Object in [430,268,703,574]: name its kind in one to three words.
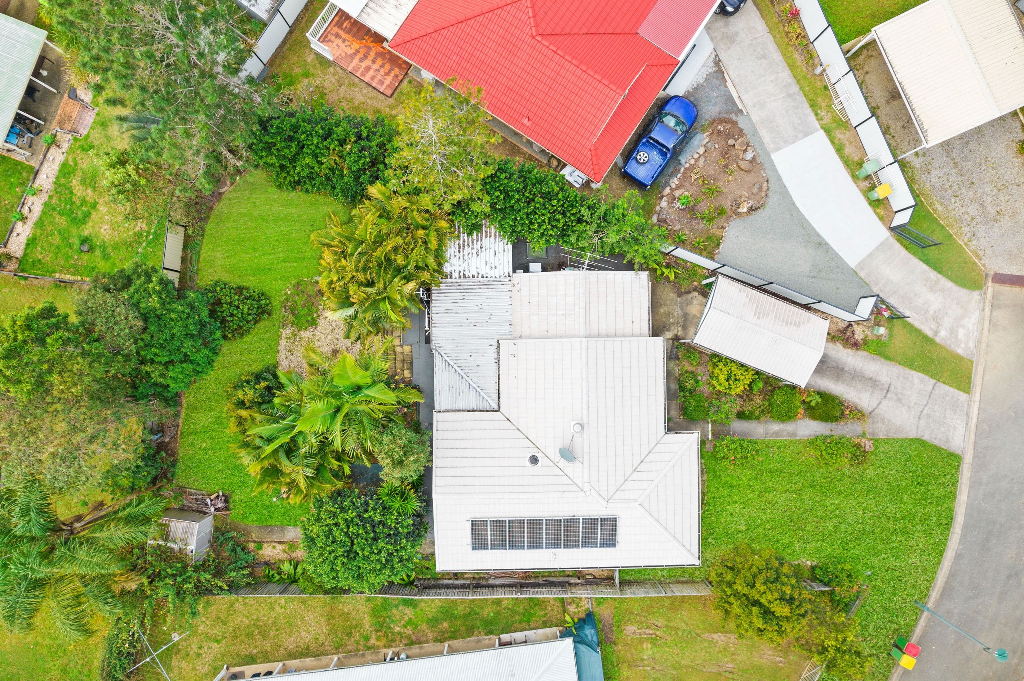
house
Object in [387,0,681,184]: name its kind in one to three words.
house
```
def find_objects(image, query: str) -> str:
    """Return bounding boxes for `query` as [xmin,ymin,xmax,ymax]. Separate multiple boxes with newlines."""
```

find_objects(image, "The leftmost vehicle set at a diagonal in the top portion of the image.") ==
[620,93,697,193]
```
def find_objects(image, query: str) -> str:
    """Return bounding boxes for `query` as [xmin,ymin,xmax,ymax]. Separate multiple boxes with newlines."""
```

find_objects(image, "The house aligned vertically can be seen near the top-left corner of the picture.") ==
[0,11,65,155]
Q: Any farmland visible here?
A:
No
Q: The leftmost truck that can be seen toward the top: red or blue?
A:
blue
